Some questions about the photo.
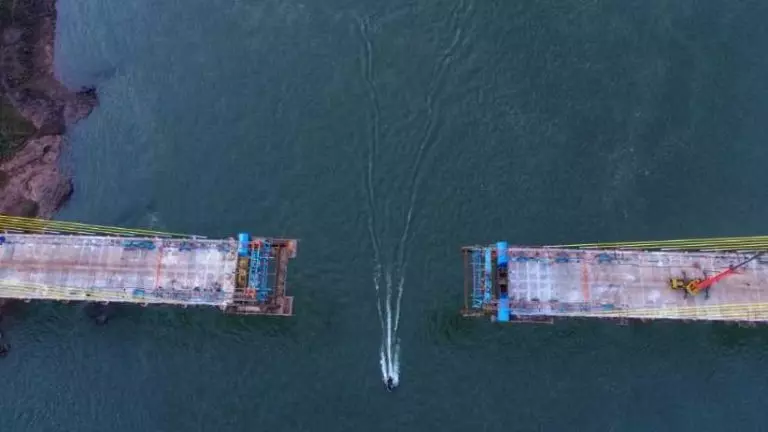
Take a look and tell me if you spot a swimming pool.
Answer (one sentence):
No, no swimming pool can be seen from above.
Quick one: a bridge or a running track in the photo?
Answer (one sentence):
The one in the frame is a bridge.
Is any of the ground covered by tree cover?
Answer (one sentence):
No, the picture contains no tree cover.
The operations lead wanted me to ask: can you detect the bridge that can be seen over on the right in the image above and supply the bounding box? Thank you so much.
[508,246,768,324]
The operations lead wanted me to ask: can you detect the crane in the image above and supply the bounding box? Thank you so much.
[671,256,763,300]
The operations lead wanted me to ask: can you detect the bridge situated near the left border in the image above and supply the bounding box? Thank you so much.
[0,233,237,308]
